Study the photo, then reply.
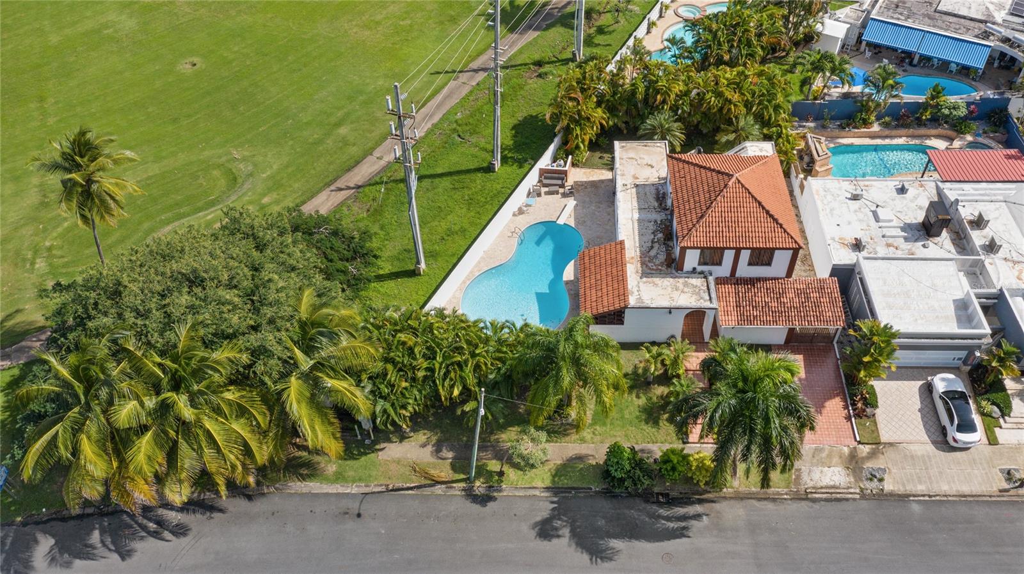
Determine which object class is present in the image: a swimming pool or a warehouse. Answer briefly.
swimming pool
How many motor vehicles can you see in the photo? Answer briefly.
1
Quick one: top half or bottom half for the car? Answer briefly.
bottom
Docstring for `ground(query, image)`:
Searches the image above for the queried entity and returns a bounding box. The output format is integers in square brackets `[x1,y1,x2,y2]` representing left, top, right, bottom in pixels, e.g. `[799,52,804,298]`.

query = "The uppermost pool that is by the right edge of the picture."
[858,72,981,96]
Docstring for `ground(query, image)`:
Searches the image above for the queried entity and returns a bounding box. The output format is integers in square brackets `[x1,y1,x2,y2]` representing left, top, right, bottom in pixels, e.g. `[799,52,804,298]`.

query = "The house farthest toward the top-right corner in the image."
[858,0,1024,100]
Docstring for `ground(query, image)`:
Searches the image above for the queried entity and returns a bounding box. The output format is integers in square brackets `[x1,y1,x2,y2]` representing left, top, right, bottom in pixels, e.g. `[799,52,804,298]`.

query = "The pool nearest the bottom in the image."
[458,218,587,334]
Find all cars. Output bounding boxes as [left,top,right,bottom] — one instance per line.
[934,371,986,446]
